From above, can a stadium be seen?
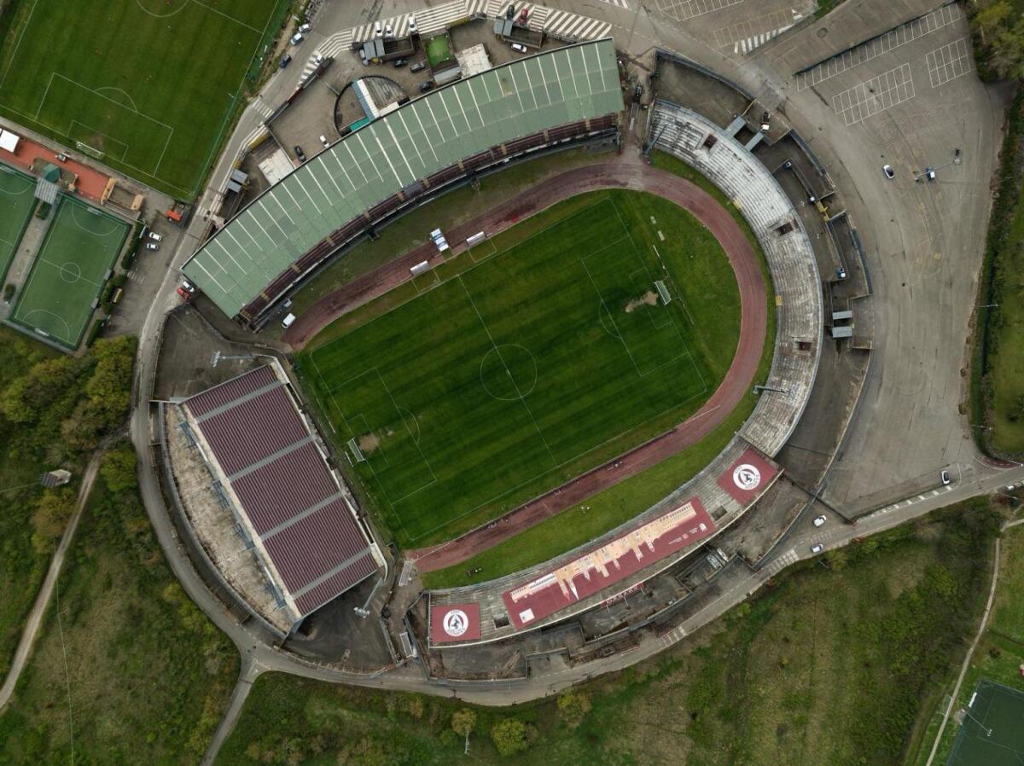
Yes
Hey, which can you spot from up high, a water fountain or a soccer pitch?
soccer pitch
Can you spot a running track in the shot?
Yes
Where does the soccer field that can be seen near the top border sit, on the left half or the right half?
left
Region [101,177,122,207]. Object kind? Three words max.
building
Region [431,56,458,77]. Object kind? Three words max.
shed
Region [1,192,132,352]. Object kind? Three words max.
soccer field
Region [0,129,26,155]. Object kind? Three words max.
tent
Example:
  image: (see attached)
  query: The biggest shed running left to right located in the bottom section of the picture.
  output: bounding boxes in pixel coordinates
[42,469,76,489]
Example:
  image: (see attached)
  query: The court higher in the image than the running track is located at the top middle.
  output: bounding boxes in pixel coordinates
[428,35,451,65]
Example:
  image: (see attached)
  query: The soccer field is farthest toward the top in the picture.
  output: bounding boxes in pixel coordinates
[0,0,287,203]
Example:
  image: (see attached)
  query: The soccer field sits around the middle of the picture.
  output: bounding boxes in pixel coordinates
[304,193,713,547]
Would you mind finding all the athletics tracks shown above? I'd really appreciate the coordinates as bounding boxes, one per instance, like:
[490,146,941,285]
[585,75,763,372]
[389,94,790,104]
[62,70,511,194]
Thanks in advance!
[281,166,763,572]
